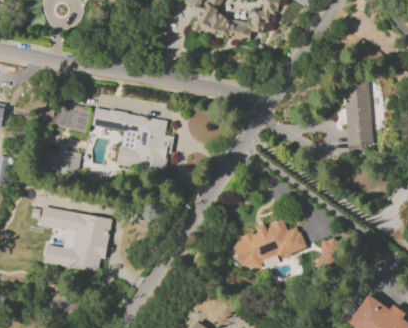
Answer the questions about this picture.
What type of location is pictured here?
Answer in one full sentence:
What you see here is a residential area.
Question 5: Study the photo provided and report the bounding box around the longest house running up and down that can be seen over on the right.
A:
[348,84,374,150]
